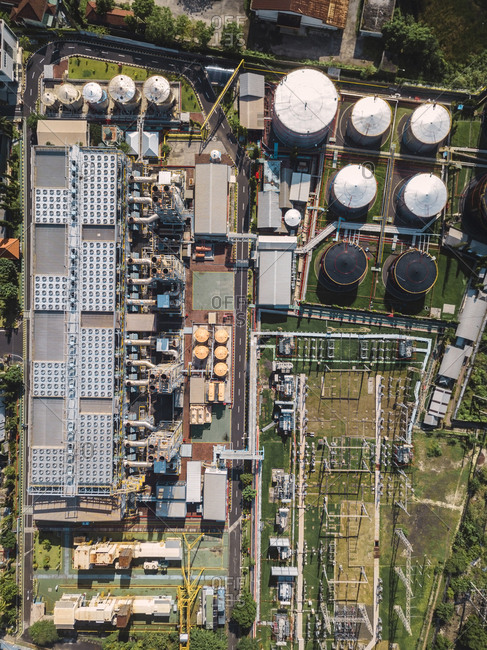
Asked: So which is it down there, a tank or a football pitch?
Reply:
tank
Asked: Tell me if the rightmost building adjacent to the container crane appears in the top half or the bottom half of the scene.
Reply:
bottom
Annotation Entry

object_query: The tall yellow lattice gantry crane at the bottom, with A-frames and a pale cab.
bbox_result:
[178,530,204,650]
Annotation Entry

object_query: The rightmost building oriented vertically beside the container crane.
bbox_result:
[204,468,227,521]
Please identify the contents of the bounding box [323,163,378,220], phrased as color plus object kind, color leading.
white storage tank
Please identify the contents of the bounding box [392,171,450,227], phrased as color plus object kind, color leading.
white storage tank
